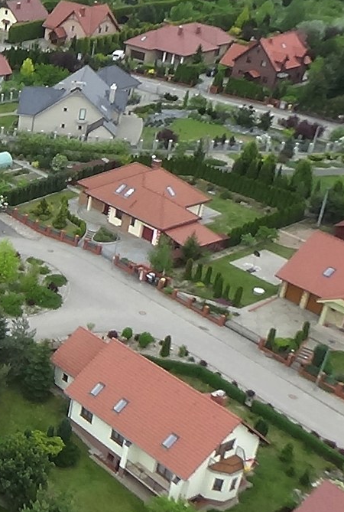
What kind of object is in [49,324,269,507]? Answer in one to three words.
house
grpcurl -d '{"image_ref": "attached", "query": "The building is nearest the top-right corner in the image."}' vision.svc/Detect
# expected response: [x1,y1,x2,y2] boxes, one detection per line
[207,28,306,87]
